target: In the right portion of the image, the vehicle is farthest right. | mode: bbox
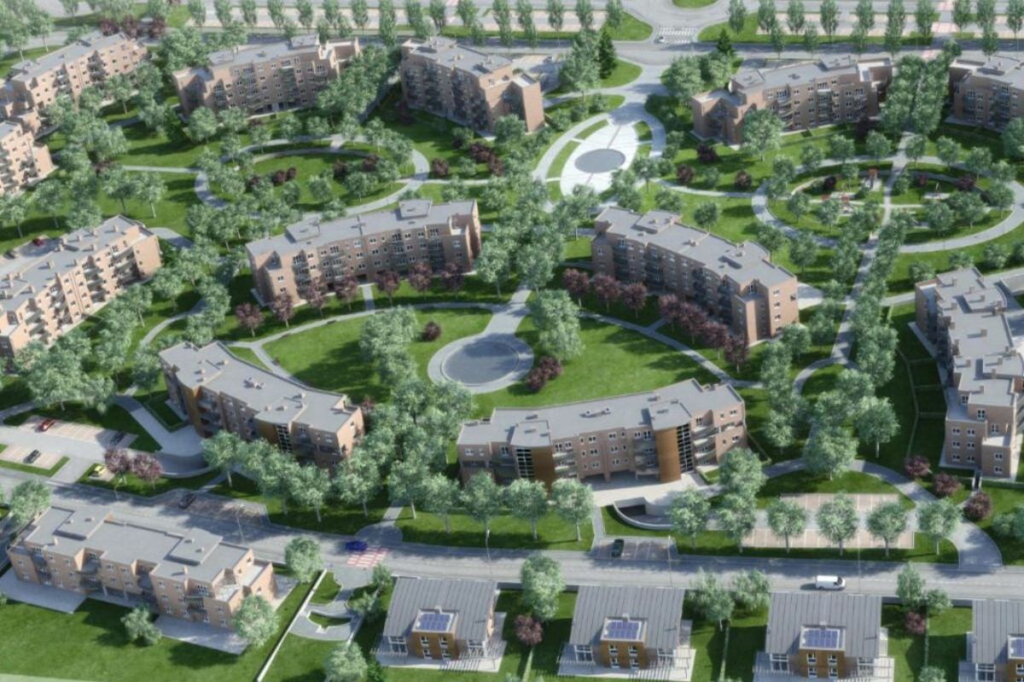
[816,573,846,592]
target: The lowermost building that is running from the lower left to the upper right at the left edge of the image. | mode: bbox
[0,214,164,372]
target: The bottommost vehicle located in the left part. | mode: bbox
[344,541,368,553]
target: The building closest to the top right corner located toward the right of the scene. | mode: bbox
[949,57,1024,128]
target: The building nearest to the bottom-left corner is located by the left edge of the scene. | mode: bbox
[7,507,279,630]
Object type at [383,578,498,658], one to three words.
house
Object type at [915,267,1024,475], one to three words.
building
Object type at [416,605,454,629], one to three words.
solar panel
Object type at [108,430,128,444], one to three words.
car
